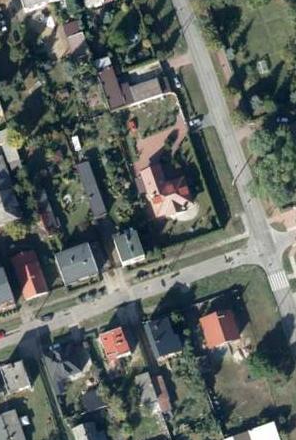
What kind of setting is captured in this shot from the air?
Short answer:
residential area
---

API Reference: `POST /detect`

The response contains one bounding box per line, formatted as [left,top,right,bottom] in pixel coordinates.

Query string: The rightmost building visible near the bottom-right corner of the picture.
[248,421,280,440]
